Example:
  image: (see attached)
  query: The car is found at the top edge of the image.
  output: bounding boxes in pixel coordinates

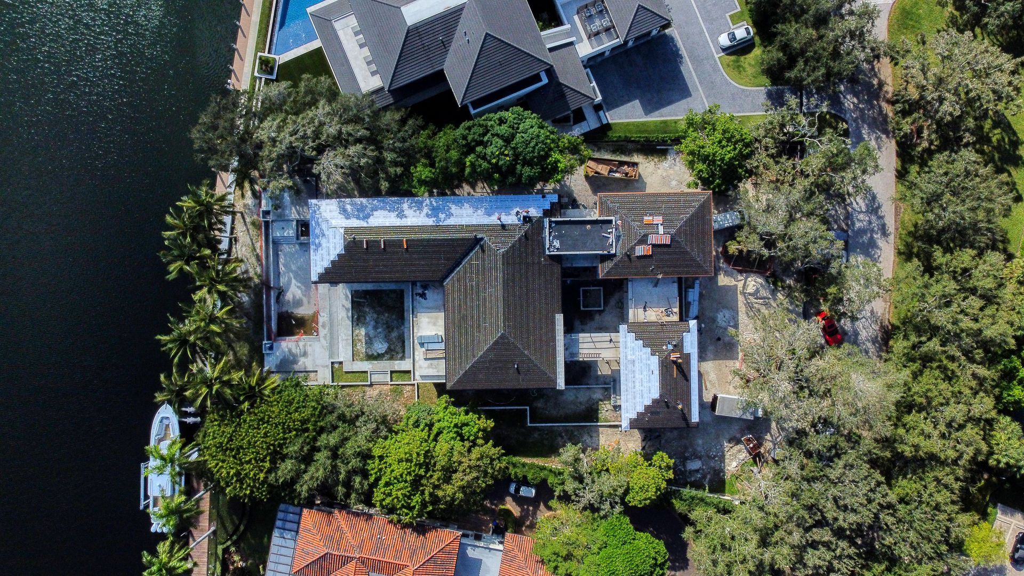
[716,26,753,51]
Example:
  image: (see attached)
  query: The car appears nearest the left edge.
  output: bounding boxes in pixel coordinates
[507,480,537,497]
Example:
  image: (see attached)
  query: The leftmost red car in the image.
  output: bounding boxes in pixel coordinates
[815,310,844,348]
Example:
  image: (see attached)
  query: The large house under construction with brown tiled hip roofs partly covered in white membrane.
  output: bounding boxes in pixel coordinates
[309,189,716,431]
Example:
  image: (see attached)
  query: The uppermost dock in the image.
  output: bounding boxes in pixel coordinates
[227,0,255,89]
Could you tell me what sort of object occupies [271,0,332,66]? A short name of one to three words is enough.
swimming pool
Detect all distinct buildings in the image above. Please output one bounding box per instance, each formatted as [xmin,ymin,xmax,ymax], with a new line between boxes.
[309,0,671,134]
[309,189,716,431]
[291,499,542,576]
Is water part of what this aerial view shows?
Yes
